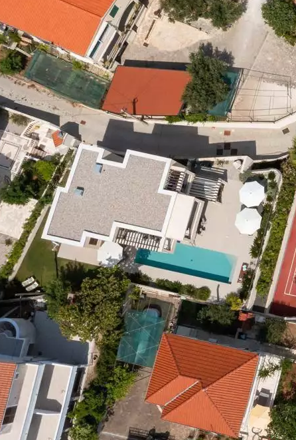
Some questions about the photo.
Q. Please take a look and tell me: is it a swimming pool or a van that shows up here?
swimming pool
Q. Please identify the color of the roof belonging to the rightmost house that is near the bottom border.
orange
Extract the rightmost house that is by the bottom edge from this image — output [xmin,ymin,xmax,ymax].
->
[144,333,264,440]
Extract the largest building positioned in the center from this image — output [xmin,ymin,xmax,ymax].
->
[42,144,230,254]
